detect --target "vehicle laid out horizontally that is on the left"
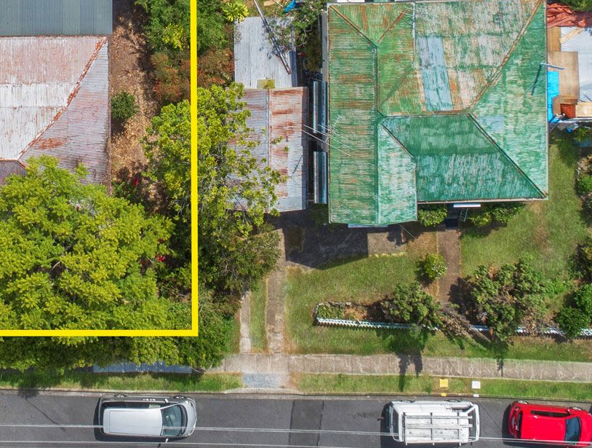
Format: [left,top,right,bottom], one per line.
[97,389,195,439]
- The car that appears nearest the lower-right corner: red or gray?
red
